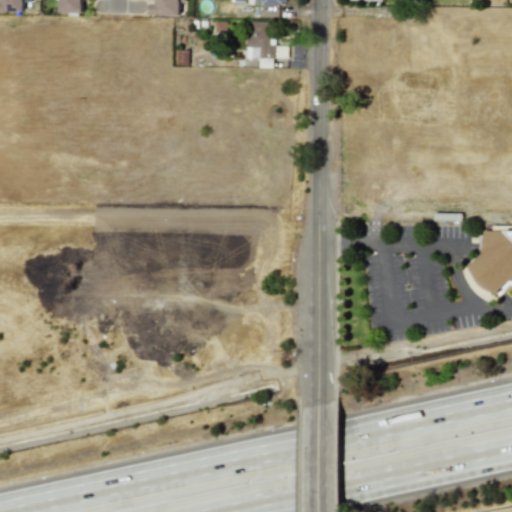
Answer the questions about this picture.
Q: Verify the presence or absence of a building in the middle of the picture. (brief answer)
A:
No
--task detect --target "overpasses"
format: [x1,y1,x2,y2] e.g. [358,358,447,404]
[296,372,340,512]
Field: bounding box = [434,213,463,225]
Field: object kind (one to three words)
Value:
building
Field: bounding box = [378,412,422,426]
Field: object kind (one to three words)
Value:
vehicle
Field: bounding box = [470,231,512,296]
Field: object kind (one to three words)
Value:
building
